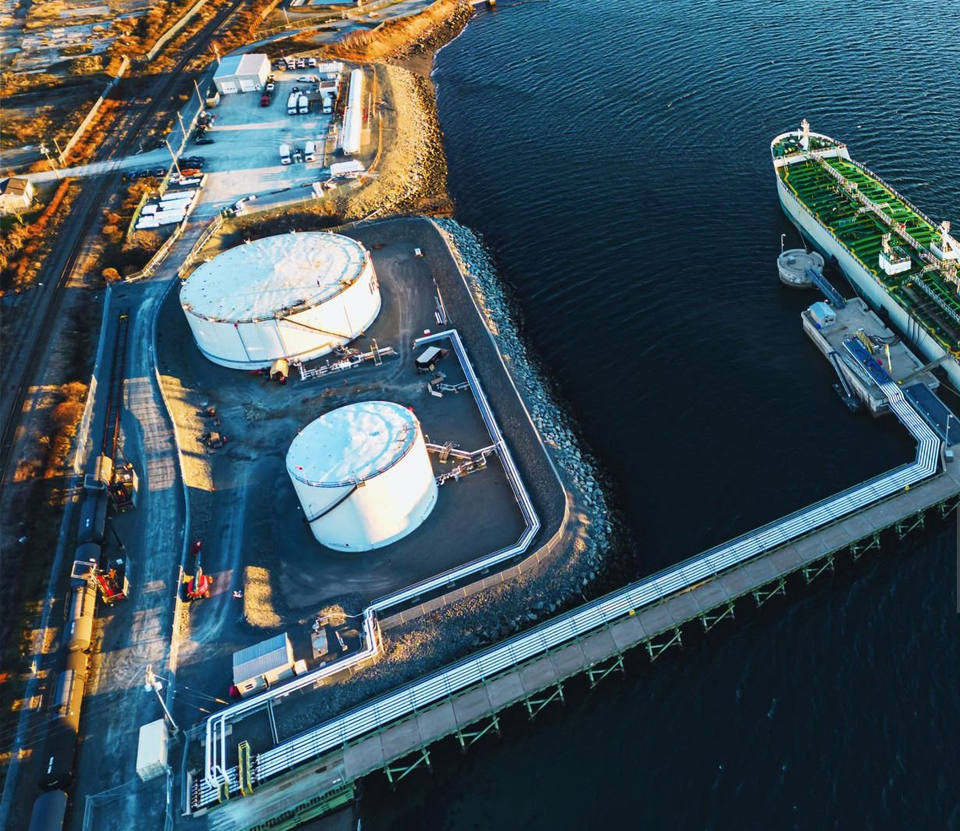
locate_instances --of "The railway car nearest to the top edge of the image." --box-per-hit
[63,466,104,560]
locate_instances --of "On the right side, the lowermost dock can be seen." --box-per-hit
[322,440,960,788]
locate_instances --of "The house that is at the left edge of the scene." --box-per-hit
[0,177,41,209]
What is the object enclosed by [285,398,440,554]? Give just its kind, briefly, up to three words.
storage tank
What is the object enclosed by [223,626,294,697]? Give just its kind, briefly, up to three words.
shed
